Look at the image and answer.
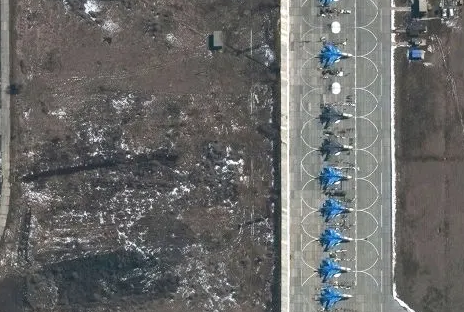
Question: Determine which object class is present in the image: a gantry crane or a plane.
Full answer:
It is a plane that can be seen here.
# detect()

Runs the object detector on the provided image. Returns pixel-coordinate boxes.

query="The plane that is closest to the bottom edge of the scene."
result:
[316,285,353,309]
